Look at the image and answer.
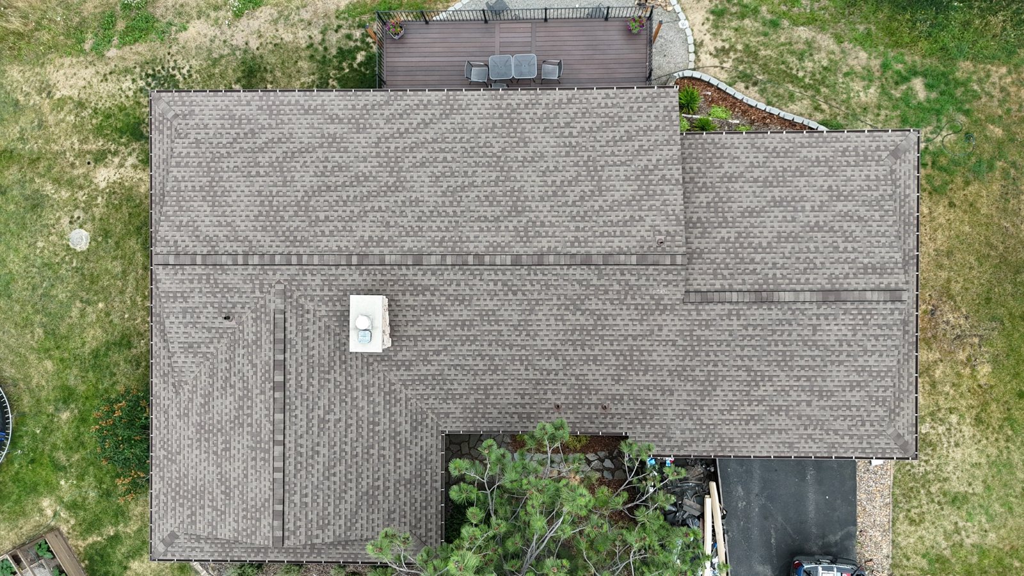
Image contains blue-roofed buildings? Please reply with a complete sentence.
No, I can't see a single blue-roofed building in this photo.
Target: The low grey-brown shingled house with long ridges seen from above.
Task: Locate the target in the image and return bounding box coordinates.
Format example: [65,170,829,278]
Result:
[149,84,920,568]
